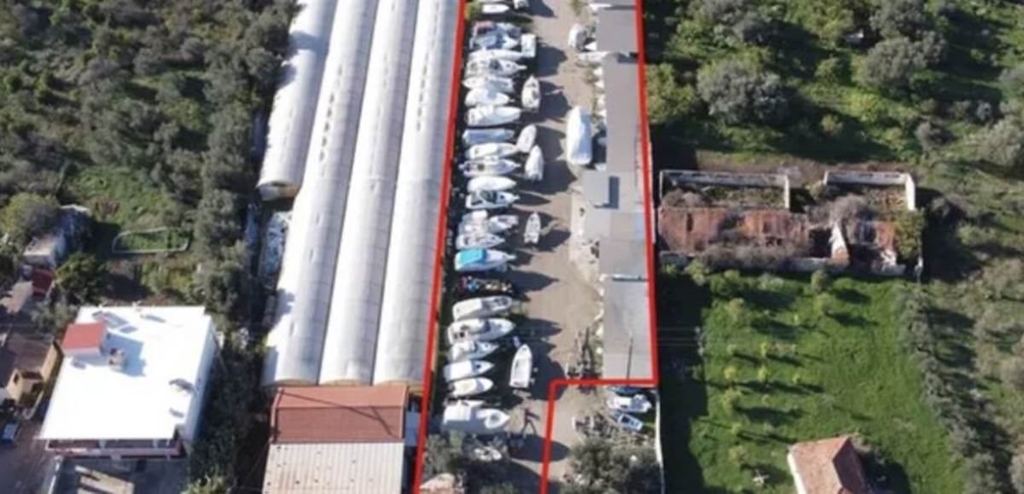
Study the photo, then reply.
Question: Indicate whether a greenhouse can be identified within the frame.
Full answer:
Yes, the photo shows a greenhouse.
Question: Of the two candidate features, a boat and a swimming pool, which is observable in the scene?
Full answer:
I can see a boat in this picture.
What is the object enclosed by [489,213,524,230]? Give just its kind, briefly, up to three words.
boat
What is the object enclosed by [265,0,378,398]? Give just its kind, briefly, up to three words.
greenhouse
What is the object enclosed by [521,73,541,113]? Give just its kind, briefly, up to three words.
boat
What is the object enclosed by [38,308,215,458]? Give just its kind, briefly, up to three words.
house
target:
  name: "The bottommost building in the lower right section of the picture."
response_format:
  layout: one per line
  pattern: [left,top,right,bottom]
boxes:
[789,435,871,494]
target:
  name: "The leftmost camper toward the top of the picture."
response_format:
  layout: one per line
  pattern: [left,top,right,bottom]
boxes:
[522,31,536,55]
